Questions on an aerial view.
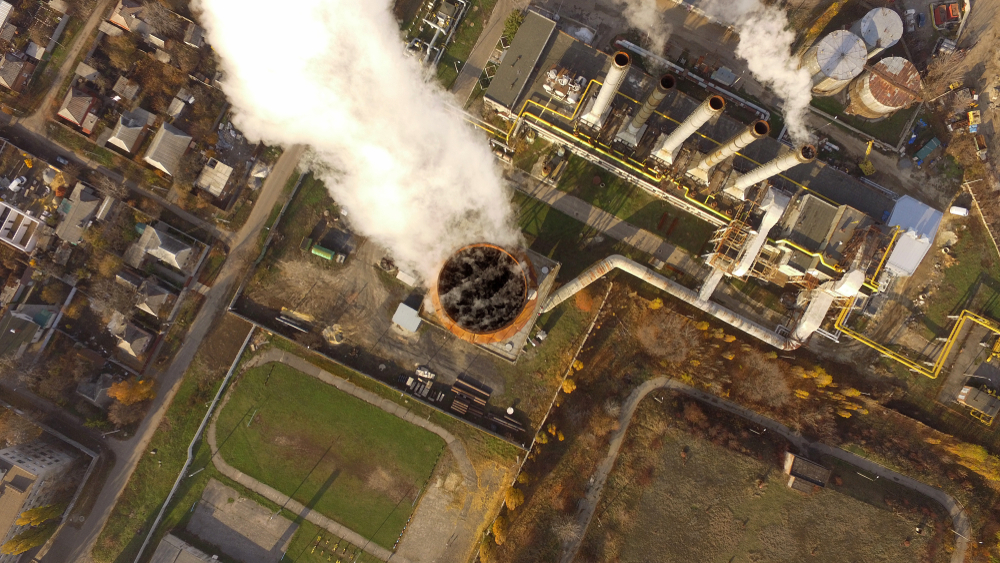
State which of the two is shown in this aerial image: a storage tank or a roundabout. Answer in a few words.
storage tank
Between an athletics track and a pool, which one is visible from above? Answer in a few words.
athletics track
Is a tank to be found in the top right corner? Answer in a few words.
Yes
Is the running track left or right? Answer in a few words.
left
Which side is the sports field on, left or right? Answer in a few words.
left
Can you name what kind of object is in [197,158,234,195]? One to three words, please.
house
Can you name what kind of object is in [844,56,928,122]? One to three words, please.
storage tank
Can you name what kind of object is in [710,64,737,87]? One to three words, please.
shed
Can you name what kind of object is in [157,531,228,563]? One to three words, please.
building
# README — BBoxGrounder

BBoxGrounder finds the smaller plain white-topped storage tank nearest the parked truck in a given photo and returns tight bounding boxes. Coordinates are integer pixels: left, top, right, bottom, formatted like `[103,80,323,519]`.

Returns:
[847,7,904,62]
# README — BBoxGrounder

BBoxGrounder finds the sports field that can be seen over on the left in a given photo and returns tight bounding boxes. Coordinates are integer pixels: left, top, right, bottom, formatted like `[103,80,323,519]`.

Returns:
[219,360,443,545]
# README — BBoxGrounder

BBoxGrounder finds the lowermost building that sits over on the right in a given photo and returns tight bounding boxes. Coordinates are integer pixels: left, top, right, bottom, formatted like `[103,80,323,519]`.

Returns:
[784,451,831,491]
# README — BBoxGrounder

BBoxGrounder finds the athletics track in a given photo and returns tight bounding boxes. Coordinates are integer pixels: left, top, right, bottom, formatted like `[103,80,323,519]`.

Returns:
[210,351,478,560]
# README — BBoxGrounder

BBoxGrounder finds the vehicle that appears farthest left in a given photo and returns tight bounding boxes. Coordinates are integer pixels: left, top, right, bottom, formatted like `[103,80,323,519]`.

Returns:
[7,176,24,190]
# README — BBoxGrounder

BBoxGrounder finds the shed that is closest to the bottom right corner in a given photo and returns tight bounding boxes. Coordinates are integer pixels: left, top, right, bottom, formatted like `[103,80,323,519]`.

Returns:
[955,386,1000,425]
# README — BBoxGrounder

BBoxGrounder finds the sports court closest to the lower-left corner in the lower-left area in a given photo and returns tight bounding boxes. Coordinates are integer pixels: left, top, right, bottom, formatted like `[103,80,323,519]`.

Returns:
[184,478,299,563]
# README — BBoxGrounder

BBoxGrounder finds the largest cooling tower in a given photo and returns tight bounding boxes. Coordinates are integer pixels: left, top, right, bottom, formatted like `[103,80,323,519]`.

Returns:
[417,219,561,361]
